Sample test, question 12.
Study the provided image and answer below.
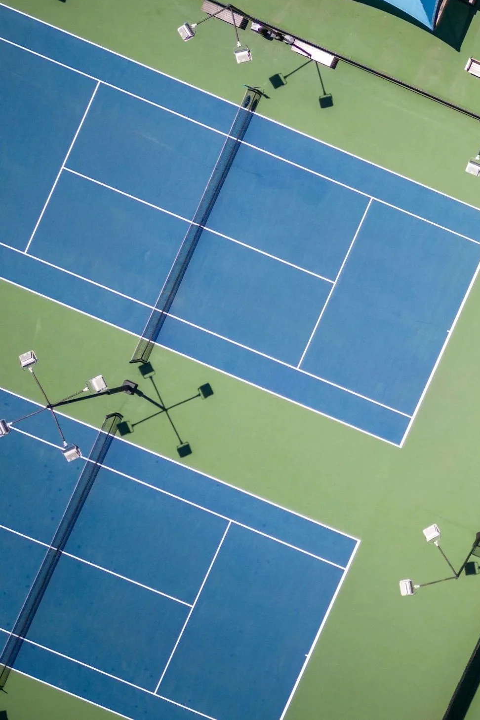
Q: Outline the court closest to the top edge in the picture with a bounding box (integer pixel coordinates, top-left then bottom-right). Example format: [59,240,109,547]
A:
[0,5,480,449]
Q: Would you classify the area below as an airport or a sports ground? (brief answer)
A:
sports ground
